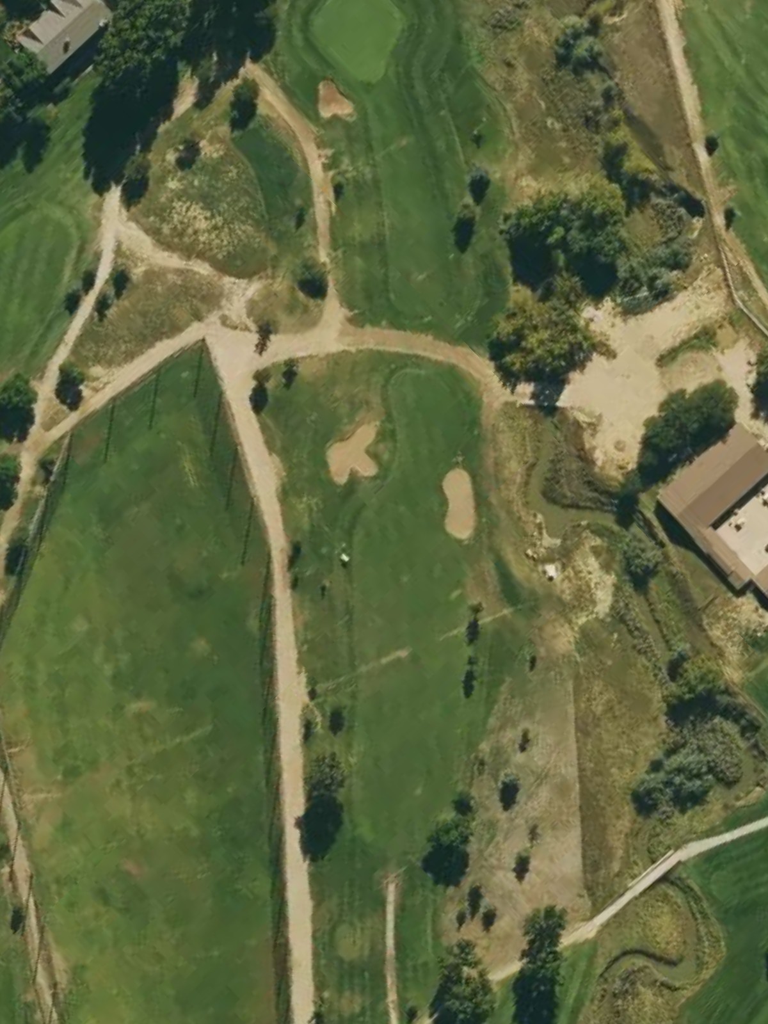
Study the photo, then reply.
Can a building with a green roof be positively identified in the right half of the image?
No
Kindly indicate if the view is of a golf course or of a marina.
golf course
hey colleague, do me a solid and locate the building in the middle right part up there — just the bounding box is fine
[659,422,768,595]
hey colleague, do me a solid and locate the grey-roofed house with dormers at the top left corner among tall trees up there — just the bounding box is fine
[19,0,110,70]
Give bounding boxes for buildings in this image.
[659,422,768,595]
[19,0,110,70]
